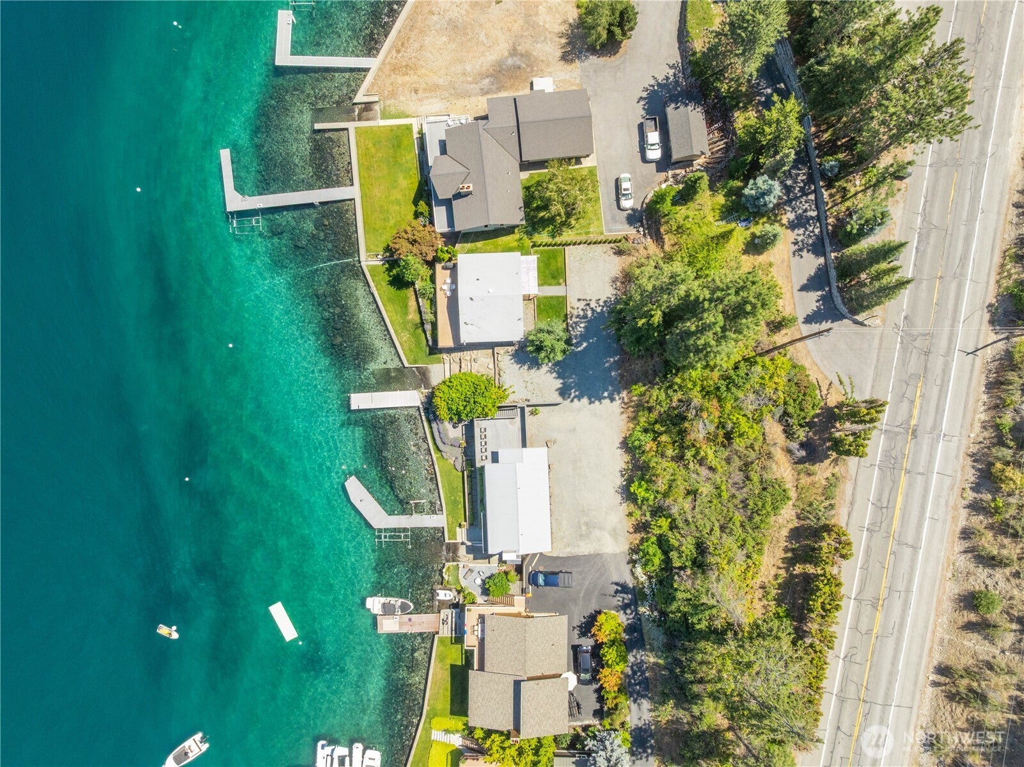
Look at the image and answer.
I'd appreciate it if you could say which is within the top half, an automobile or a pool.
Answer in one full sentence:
What appears within the top half is an automobile.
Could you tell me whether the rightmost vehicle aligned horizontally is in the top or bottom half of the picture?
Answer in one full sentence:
The bottom half of the photo is where the rightmost vehicle aligned horizontally is.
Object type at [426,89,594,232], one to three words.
house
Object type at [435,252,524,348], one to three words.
house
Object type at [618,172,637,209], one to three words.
car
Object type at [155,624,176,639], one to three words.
boat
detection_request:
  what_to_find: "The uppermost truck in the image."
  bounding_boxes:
[642,114,663,161]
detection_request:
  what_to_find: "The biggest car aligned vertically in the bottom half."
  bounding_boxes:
[577,648,596,686]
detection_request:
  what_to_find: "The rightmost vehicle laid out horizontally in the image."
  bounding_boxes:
[529,571,574,591]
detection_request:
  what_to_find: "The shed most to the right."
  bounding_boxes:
[662,102,709,168]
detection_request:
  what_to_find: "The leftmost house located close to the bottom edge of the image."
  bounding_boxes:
[465,594,568,743]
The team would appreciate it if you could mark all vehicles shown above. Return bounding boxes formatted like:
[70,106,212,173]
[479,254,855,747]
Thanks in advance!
[529,571,574,591]
[642,114,663,161]
[618,172,637,209]
[577,648,596,686]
